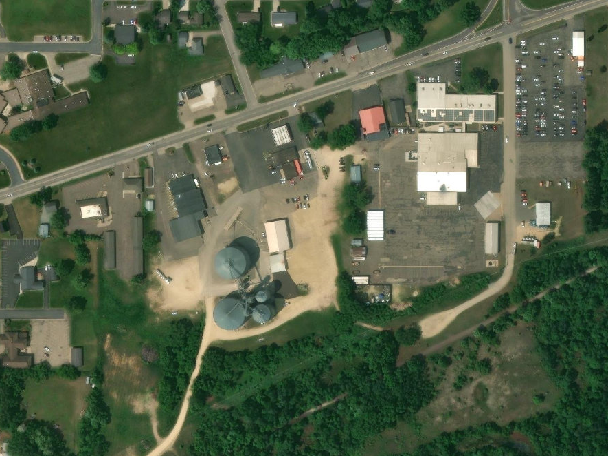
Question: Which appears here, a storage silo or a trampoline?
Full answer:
The one in the frame is a storage silo.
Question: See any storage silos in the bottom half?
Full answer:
Yes, there is a storage silo in the bottom half.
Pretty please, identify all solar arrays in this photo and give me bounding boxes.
[437,110,453,122]
[454,110,474,122]
[484,111,494,122]
[475,110,483,122]
[419,110,435,122]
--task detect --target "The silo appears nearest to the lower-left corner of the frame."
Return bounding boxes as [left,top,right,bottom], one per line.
[212,298,245,330]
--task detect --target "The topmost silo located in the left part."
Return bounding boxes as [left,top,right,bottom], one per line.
[214,247,246,279]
